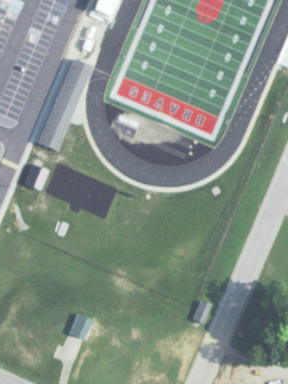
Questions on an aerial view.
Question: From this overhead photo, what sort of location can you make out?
sports ground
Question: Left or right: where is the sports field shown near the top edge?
right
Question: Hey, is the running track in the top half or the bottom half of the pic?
top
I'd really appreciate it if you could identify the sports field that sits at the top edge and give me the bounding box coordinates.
[104,0,282,148]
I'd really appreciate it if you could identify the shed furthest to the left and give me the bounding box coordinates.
[24,163,49,190]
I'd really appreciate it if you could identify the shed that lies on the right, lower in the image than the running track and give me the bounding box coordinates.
[192,301,213,325]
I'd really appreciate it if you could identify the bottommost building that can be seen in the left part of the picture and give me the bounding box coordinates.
[68,314,94,342]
